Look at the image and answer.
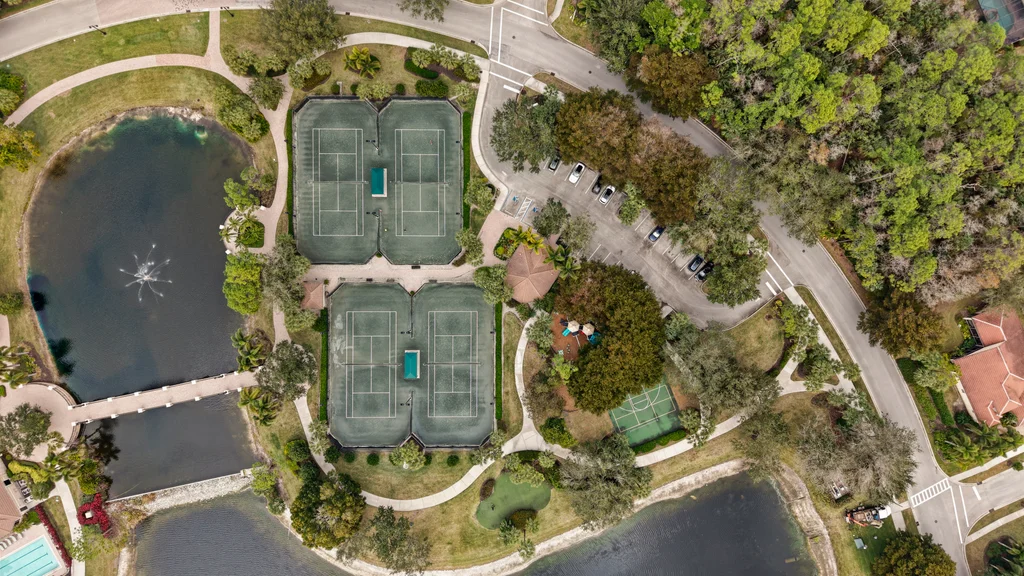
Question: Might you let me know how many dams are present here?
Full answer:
I count 1 dam.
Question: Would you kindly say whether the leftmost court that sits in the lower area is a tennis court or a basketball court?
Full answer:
The leftmost court that sits in the lower area in the image is a tennis court.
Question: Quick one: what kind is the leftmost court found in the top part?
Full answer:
The leftmost court found in the top part is a tennis court.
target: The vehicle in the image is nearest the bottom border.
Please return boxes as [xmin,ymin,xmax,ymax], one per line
[845,508,894,530]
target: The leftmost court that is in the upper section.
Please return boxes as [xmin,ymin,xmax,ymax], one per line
[298,101,379,263]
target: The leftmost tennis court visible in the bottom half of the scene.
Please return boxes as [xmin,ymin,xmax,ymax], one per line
[329,284,411,446]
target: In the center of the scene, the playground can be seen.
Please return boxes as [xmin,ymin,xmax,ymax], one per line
[560,318,601,346]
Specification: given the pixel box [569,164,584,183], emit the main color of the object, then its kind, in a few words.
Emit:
white car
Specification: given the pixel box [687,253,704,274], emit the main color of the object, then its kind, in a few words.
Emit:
gray car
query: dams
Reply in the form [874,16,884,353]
[103,465,255,517]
